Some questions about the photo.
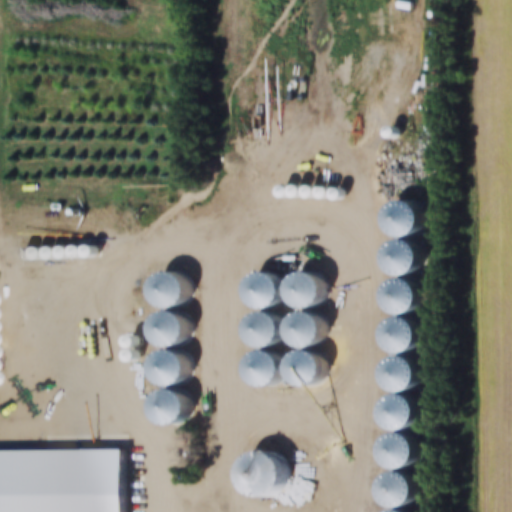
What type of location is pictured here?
industrial area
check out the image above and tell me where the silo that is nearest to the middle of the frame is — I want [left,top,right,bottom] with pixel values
[238,271,284,310]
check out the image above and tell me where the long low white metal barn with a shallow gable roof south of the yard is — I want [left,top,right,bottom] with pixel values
[0,448,128,512]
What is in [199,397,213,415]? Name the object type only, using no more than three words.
work vehicle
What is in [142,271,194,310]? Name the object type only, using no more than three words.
silo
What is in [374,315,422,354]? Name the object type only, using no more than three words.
silo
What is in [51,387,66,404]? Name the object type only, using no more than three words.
vehicle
